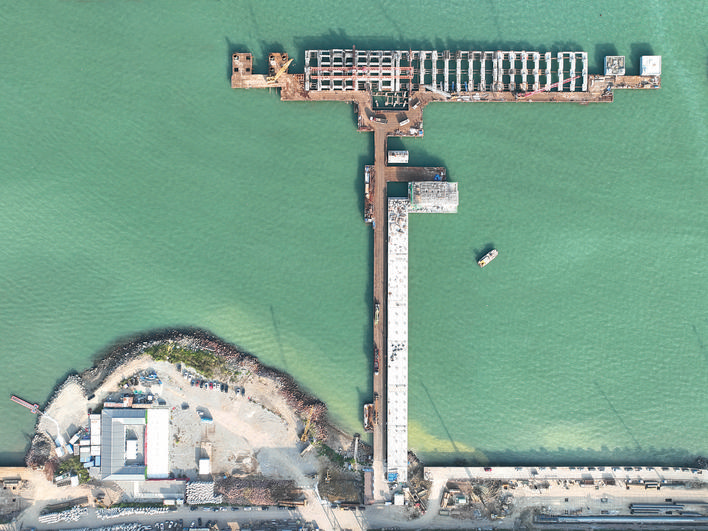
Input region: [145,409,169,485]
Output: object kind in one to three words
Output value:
building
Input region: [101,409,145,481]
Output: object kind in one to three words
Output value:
building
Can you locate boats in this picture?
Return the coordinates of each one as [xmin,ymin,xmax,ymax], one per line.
[478,250,498,268]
